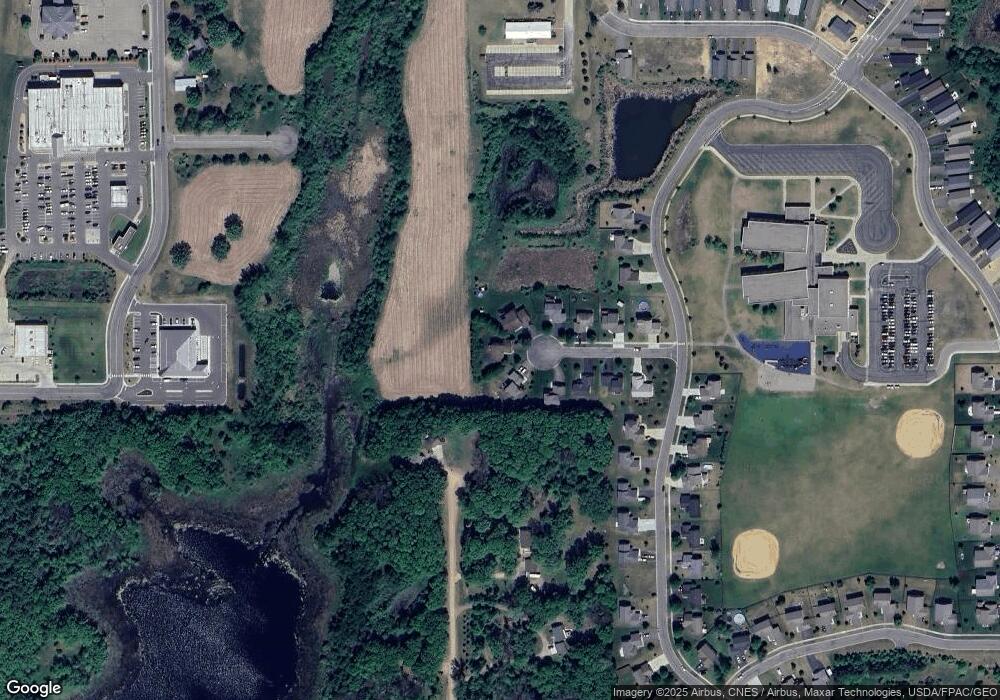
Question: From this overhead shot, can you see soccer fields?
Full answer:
No, there's no soccer field here.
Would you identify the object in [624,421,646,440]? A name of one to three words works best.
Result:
house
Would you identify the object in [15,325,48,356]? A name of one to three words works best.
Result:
building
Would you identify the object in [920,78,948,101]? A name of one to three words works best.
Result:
house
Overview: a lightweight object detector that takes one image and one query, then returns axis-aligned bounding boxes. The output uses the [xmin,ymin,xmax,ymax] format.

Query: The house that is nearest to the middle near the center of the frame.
[487,343,513,361]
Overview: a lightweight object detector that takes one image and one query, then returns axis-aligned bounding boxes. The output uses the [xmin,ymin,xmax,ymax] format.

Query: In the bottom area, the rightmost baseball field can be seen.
[896,408,943,458]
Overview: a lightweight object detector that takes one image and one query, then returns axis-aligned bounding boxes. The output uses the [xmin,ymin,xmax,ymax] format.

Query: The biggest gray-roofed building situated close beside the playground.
[742,207,858,341]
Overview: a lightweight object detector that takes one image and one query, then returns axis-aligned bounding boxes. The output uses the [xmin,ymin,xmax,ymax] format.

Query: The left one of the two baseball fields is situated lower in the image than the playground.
[732,528,778,579]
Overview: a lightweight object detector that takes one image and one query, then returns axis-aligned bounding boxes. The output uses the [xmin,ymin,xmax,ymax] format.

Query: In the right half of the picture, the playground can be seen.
[737,332,815,391]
